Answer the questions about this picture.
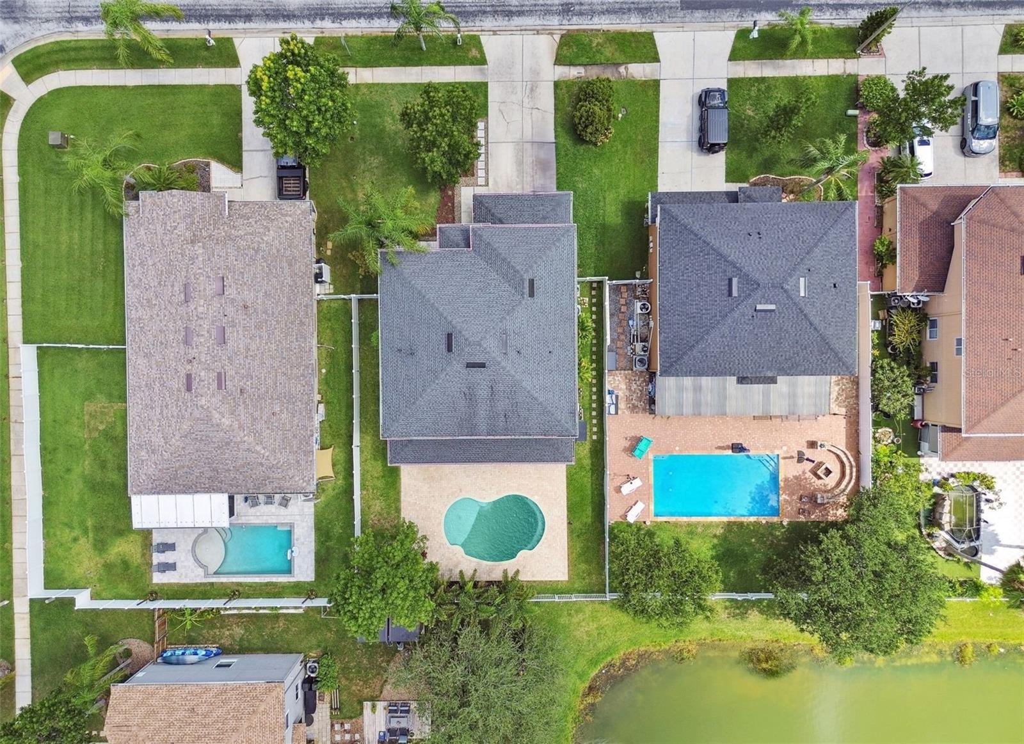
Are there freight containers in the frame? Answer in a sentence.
No, no freight container is visible in the view.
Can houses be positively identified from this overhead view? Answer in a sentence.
Yes, the picture does show a house.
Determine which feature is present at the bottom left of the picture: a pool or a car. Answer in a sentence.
The feature located at the bottom left of the picture is a pool.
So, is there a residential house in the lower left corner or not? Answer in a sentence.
Yes, looking in the lower left corner, one can make out a residential house.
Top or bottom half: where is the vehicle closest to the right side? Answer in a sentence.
The top half of the photo is where the vehicle closest to the right side is.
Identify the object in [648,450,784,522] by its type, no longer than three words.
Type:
swimming pool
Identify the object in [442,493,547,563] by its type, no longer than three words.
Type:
swimming pool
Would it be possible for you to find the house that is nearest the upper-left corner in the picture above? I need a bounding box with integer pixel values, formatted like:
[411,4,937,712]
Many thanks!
[122,187,322,499]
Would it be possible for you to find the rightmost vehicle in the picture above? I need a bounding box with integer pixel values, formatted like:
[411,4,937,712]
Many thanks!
[967,83,1006,156]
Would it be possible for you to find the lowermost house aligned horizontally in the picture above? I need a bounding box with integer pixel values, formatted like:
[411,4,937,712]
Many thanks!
[108,656,313,744]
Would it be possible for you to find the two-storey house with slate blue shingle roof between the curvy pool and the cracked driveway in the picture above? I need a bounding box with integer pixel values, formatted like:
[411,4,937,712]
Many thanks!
[377,190,579,466]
